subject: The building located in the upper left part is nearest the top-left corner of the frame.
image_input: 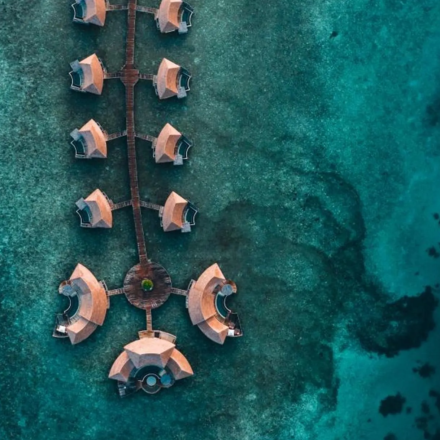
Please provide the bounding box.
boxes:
[71,0,111,28]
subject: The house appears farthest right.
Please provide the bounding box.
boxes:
[185,263,242,345]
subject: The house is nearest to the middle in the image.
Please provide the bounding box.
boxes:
[158,191,199,232]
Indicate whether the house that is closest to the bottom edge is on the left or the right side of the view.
left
